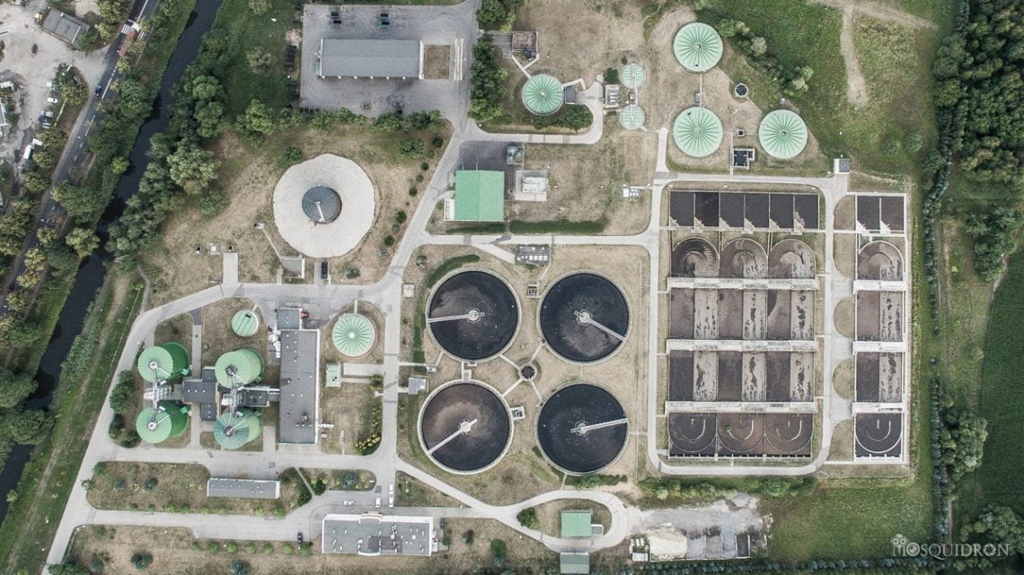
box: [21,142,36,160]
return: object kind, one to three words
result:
vehicle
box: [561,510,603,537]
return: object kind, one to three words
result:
shed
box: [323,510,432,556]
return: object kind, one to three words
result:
building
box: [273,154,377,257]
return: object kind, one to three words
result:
storage tank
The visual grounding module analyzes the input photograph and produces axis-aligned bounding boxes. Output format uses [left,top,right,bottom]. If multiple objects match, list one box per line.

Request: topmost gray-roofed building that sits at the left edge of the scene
[43,8,95,46]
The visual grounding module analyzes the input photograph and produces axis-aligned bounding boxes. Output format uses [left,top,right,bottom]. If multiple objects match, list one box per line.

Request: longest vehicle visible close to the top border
[118,23,140,56]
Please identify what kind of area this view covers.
industrial area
